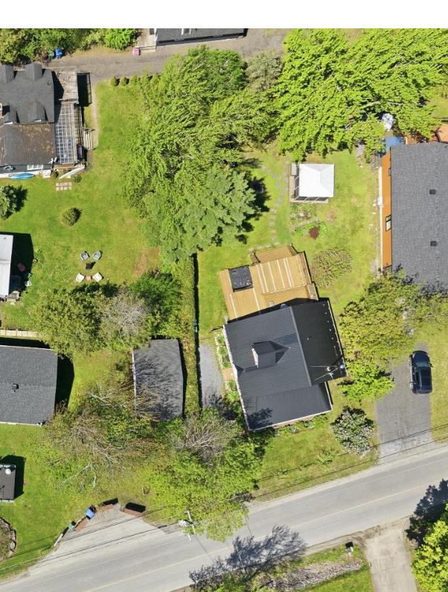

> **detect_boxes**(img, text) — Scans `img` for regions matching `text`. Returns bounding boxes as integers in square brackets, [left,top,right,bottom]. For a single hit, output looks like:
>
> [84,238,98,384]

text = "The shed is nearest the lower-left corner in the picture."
[0,463,17,502]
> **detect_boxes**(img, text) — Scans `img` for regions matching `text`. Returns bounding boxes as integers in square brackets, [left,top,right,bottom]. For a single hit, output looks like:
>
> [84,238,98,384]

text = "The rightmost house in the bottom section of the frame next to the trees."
[219,299,348,429]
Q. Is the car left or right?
right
